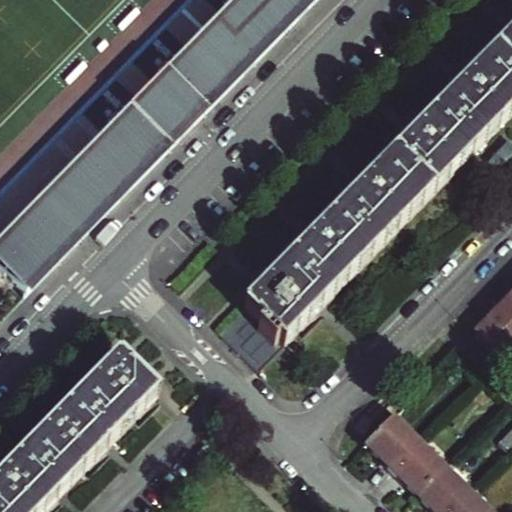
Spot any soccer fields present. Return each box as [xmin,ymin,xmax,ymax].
[0,0,156,154]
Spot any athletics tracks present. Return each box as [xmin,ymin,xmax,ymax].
[0,0,177,178]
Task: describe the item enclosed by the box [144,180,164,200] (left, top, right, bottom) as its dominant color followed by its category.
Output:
white car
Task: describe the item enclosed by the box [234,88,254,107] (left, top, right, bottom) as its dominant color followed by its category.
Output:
white car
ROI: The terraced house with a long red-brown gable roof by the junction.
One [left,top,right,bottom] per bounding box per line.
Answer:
[366,415,494,512]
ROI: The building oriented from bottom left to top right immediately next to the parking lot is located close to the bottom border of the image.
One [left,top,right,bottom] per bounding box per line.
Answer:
[0,341,162,512]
